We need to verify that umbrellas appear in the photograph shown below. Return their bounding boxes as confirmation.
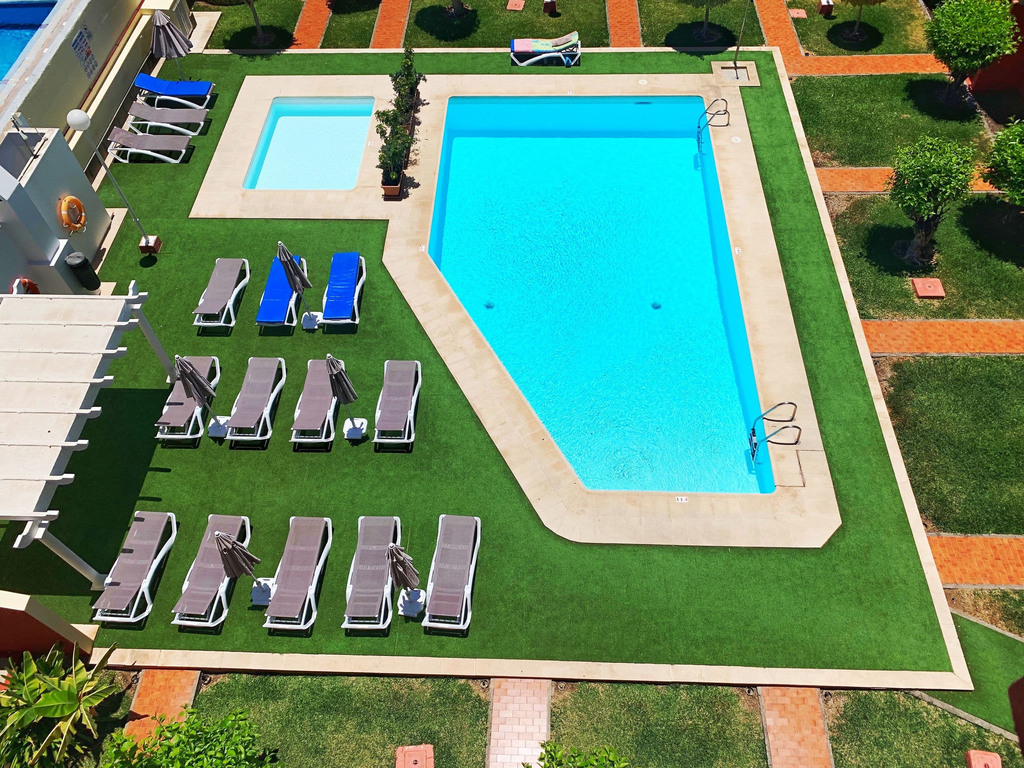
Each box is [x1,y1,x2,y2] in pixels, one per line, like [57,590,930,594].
[323,354,368,440]
[282,242,325,331]
[147,10,194,80]
[171,356,233,439]
[380,542,426,616]
[210,531,279,605]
